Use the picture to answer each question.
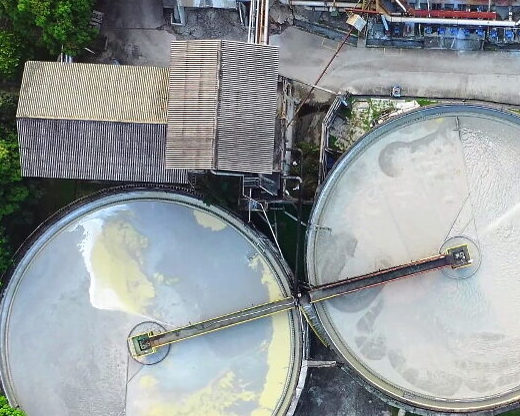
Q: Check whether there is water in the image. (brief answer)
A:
Yes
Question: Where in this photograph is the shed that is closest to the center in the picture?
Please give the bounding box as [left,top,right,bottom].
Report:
[166,38,280,174]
